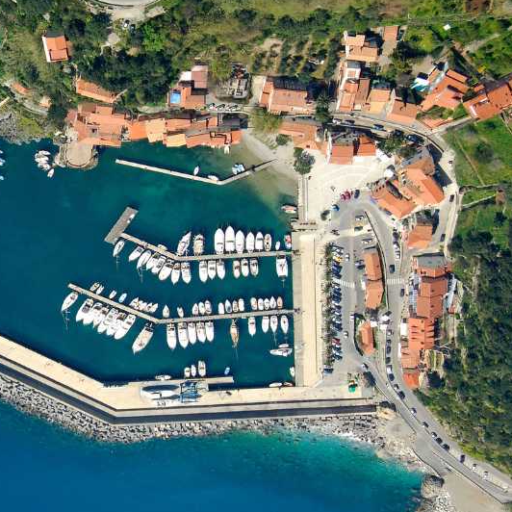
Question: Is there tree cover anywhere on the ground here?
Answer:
Yes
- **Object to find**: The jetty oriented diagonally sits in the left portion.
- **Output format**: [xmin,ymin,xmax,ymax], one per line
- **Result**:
[106,209,135,246]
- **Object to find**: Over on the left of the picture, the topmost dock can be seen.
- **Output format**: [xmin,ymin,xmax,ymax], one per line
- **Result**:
[115,159,264,184]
